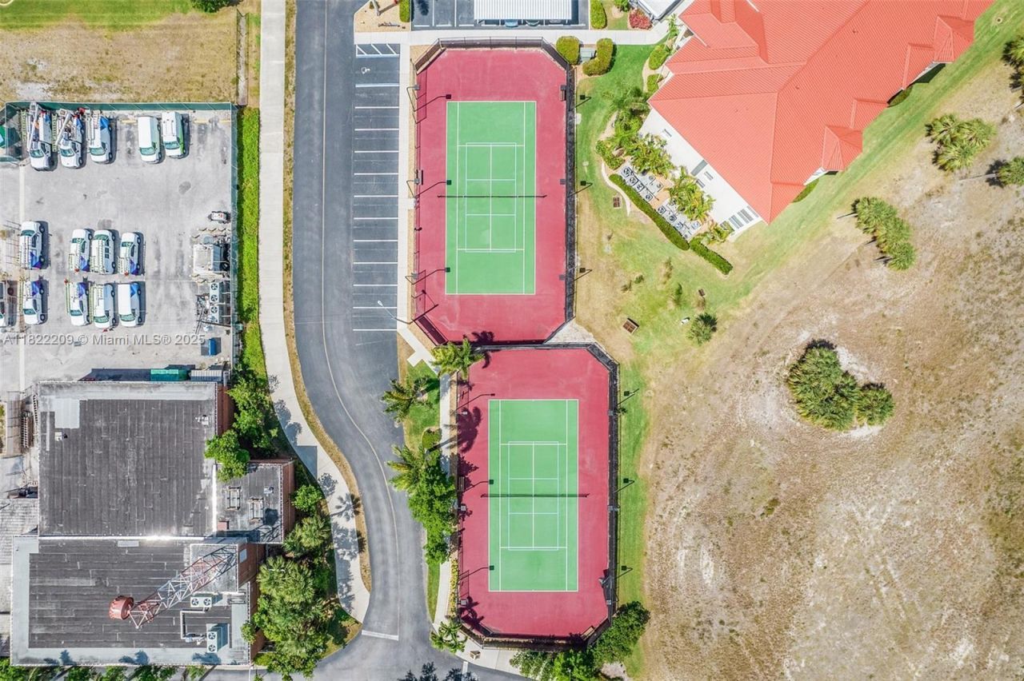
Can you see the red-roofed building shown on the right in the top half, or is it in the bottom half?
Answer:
top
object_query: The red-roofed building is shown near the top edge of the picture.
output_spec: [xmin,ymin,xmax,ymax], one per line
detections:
[639,0,995,230]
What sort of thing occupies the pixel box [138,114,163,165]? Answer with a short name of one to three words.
vehicle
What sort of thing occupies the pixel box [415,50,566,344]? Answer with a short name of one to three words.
tennis court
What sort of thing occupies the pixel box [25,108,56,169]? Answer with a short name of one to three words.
truck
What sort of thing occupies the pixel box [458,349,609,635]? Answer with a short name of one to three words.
tennis court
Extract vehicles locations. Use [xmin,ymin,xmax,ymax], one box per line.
[118,281,143,329]
[67,281,92,326]
[504,21,520,30]
[25,108,56,169]
[89,114,114,165]
[548,21,563,30]
[68,228,93,273]
[480,21,495,30]
[524,21,539,30]
[23,223,49,268]
[138,114,163,165]
[118,232,142,277]
[91,282,117,329]
[23,279,48,325]
[90,229,116,275]
[161,110,185,160]
[56,110,85,171]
